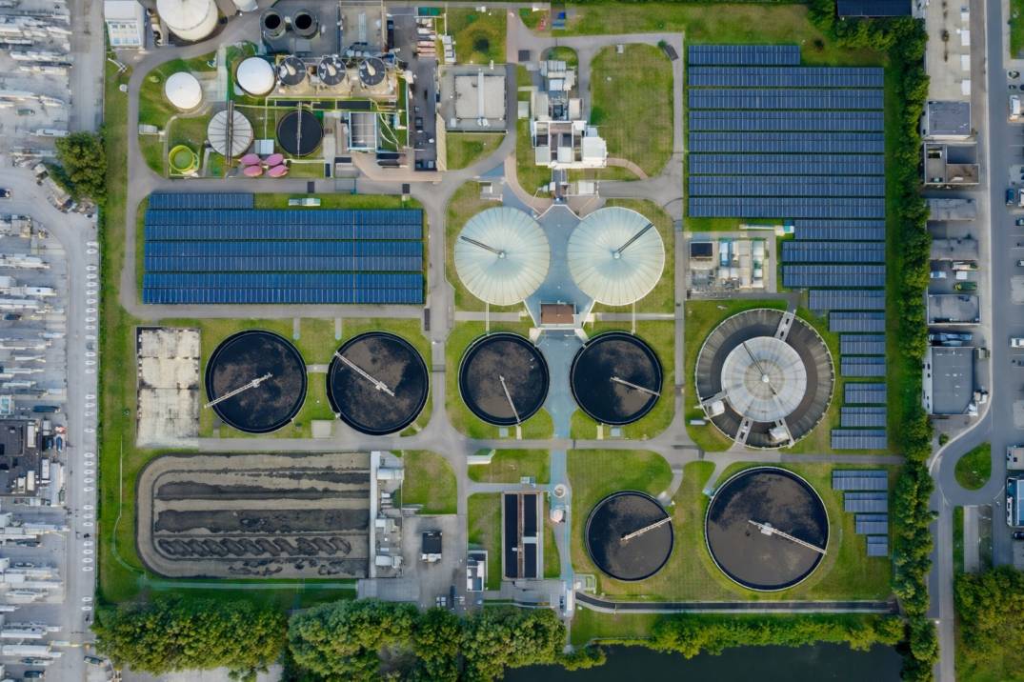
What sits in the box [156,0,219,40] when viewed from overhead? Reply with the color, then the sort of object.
white storage tank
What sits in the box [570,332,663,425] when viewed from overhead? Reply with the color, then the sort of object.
black storage tank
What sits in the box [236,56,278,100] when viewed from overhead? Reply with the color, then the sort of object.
white storage tank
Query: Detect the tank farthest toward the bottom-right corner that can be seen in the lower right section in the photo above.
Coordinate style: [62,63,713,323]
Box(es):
[705,467,830,592]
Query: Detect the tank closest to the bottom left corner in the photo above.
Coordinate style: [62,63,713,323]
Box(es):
[201,330,308,434]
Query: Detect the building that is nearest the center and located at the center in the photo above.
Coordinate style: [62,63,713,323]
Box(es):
[540,301,575,327]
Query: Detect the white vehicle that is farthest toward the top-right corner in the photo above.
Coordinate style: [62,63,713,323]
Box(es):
[1009,96,1021,119]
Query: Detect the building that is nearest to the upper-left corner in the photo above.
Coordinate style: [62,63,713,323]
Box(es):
[104,0,152,49]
